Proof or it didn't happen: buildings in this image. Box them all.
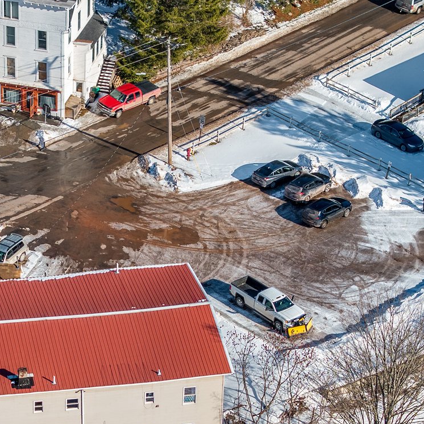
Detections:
[0,0,144,128]
[0,262,234,424]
